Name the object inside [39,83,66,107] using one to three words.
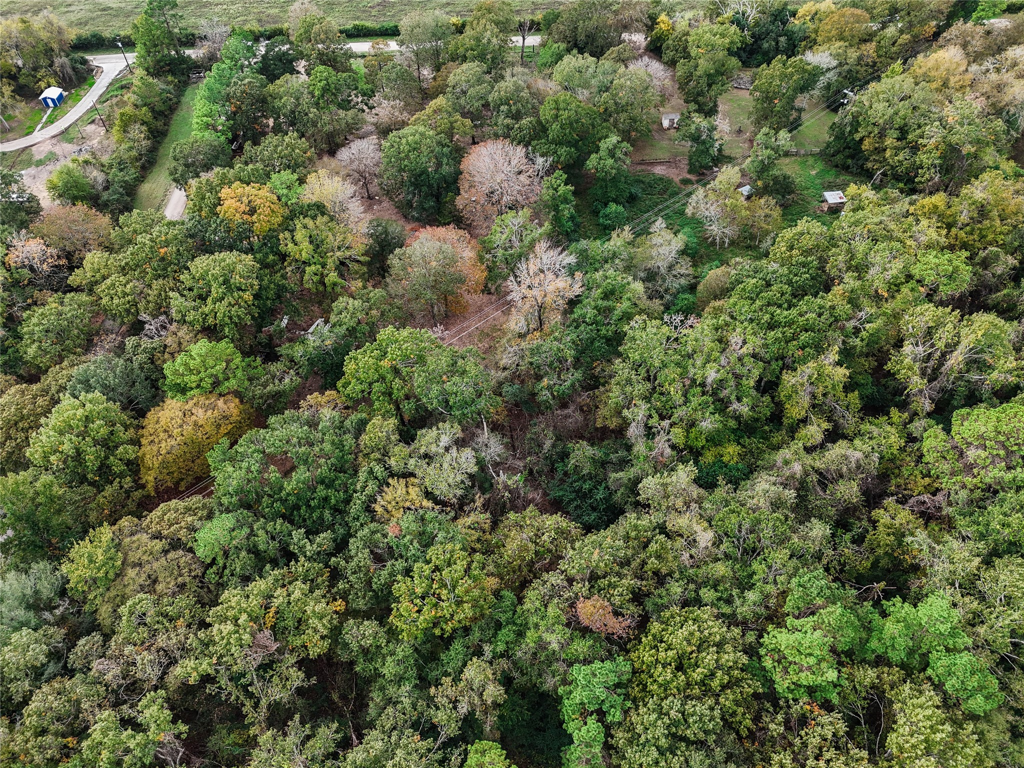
shed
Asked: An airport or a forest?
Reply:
forest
